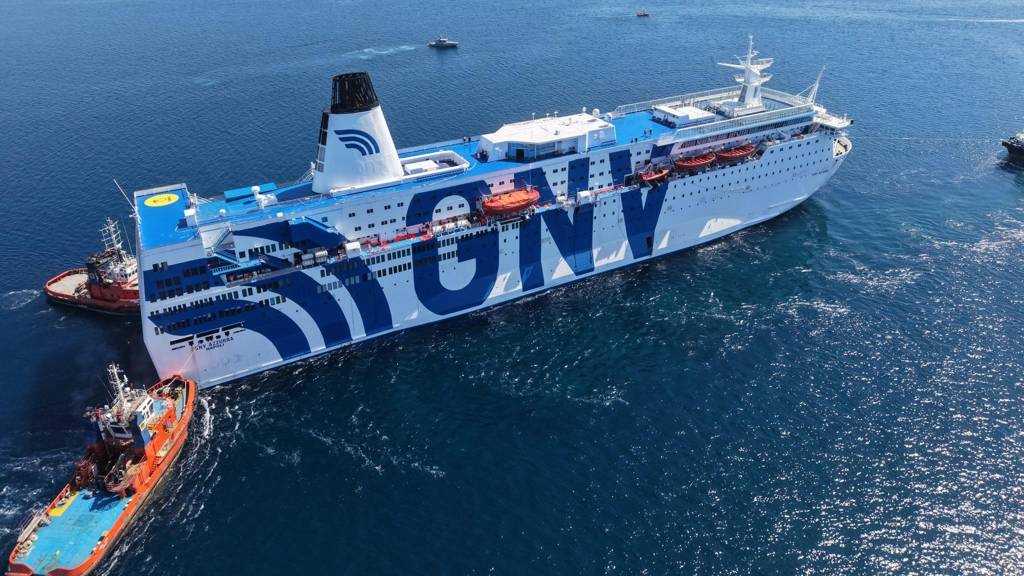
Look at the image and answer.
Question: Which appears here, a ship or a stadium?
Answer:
ship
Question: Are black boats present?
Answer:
Yes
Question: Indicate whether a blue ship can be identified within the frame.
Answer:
Yes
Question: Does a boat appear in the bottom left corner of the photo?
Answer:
Yes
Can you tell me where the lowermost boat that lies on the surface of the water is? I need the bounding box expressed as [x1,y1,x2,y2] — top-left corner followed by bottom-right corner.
[3,360,196,576]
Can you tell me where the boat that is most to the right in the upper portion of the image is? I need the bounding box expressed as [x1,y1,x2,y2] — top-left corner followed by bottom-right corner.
[1003,130,1024,155]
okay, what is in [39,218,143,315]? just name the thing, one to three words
boat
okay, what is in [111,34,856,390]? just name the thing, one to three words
ship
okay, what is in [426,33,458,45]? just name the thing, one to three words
boat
